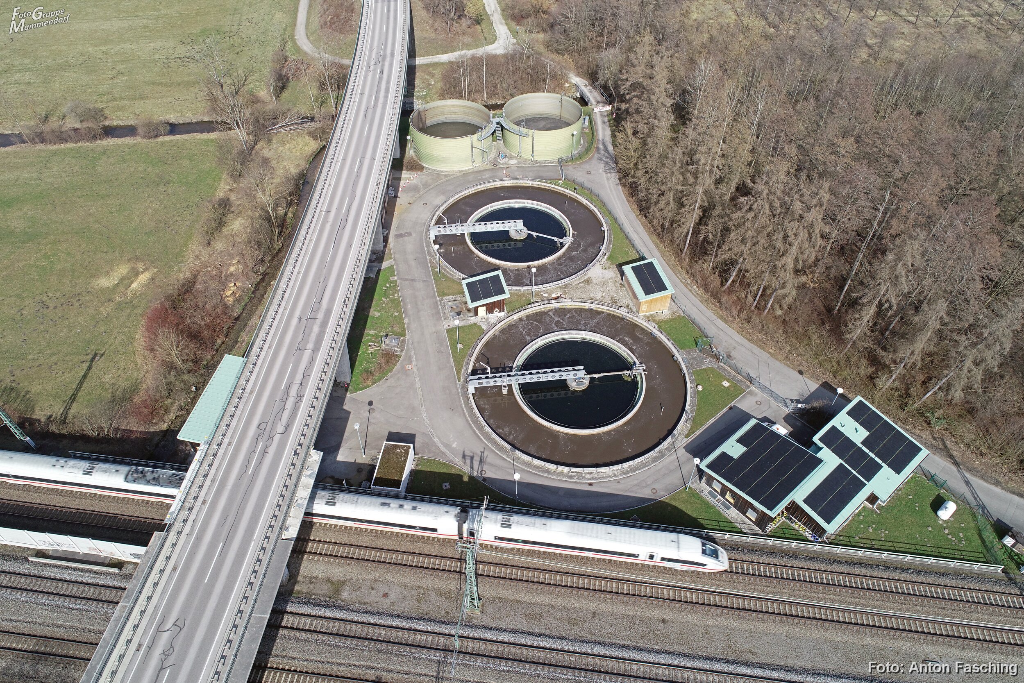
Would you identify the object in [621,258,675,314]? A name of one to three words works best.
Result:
shed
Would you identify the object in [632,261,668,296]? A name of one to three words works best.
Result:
solar array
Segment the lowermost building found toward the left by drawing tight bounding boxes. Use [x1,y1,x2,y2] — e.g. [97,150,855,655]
[371,442,414,498]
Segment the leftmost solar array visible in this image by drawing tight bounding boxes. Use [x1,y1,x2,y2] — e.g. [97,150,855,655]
[466,274,505,303]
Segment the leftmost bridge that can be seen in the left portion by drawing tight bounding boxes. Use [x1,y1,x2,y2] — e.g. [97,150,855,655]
[80,0,410,683]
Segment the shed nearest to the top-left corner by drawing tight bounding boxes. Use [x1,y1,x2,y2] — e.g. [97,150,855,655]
[462,270,510,317]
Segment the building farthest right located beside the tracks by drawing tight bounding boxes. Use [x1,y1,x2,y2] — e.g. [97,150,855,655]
[691,395,930,546]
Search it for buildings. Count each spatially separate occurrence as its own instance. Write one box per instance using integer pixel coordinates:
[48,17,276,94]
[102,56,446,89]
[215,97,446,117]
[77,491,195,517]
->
[462,270,510,317]
[371,442,414,498]
[691,395,930,546]
[621,258,675,314]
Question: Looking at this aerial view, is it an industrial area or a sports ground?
industrial area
